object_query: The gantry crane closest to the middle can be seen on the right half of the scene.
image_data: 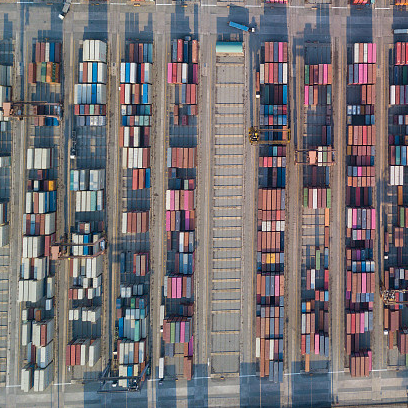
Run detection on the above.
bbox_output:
[245,126,292,146]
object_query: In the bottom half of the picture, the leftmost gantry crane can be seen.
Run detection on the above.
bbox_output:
[48,235,109,259]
